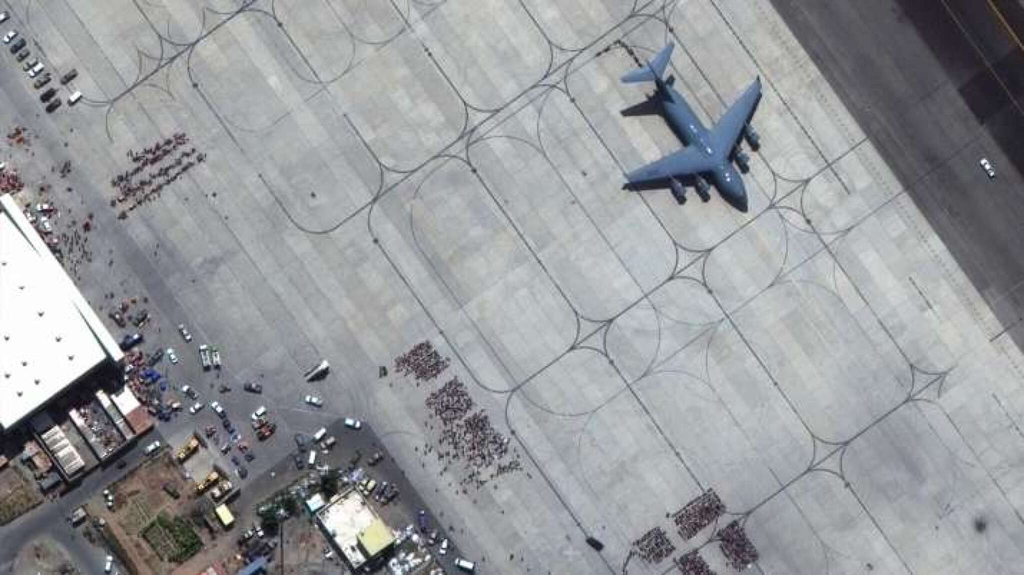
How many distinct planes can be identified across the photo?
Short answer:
one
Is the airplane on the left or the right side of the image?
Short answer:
right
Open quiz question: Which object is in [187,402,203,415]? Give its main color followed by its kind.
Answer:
white vehicle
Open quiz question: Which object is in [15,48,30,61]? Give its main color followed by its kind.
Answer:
gray vehicle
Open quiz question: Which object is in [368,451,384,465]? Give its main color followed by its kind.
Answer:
gray car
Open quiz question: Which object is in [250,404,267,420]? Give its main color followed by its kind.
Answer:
white vehicle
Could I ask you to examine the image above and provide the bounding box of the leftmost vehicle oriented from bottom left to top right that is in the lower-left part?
[69,508,88,524]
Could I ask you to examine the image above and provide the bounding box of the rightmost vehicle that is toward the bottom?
[585,535,604,552]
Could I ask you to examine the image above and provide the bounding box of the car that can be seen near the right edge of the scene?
[980,160,994,177]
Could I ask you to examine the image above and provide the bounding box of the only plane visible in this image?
[618,37,757,208]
